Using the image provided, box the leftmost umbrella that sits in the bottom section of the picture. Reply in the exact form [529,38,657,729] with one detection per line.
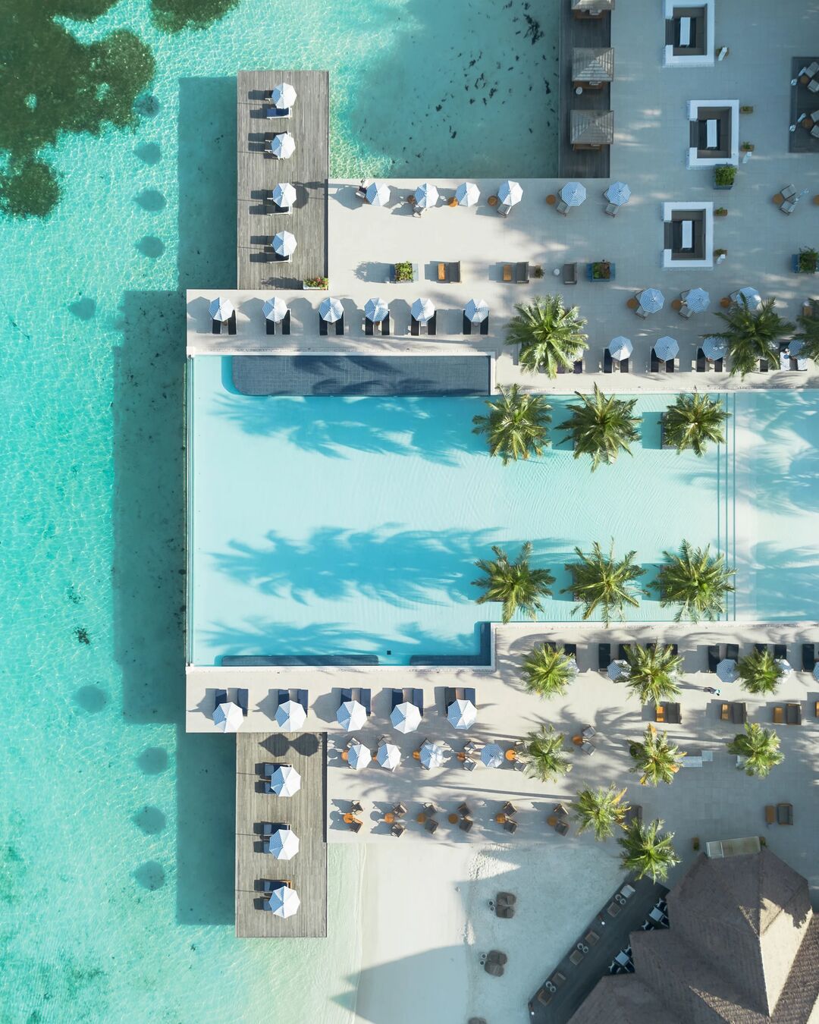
[213,701,244,732]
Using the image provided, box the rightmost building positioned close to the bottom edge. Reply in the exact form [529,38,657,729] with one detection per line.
[564,847,819,1024]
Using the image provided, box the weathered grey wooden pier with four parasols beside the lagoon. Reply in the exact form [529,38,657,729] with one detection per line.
[237,70,328,290]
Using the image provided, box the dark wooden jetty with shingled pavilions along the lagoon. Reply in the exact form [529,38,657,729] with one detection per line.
[558,0,610,179]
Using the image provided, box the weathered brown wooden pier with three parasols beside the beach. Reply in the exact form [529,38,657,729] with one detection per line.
[236,733,327,938]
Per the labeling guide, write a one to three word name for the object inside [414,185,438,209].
umbrella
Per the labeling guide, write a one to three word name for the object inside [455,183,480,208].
umbrella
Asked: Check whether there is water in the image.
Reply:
Yes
